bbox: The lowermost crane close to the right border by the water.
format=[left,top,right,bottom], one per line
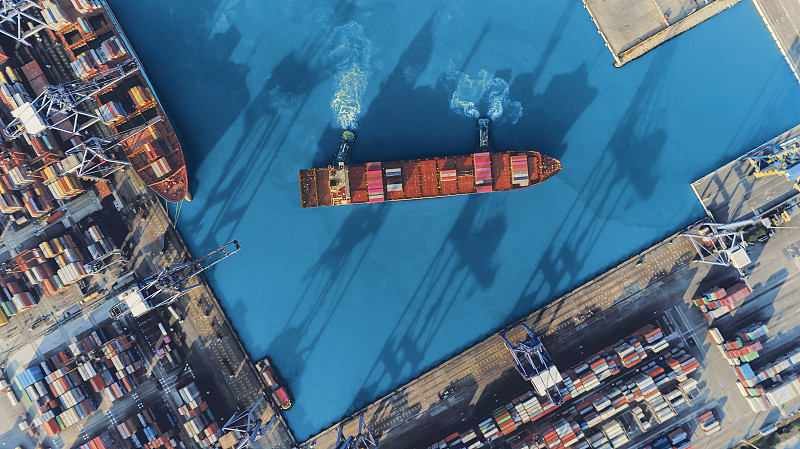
[677,210,773,280]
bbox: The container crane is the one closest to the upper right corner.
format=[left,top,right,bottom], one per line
[743,138,800,187]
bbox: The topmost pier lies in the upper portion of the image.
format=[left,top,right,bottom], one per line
[583,0,712,57]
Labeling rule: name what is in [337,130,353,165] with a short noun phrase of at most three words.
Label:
boat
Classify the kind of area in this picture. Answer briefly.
port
